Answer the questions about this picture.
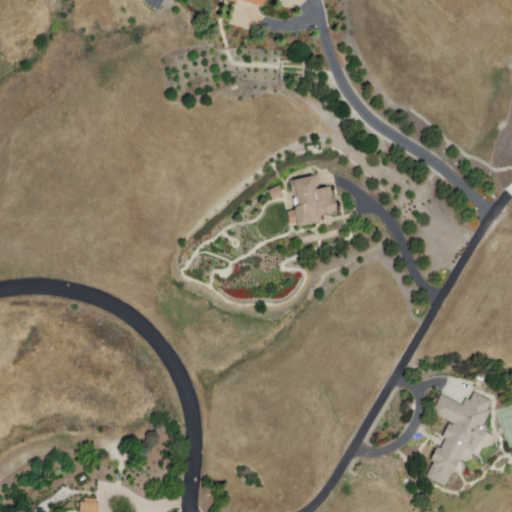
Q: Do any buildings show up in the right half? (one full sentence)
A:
Yes, a building is visible in the right half.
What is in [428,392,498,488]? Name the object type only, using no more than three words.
house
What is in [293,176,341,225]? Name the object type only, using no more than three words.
house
